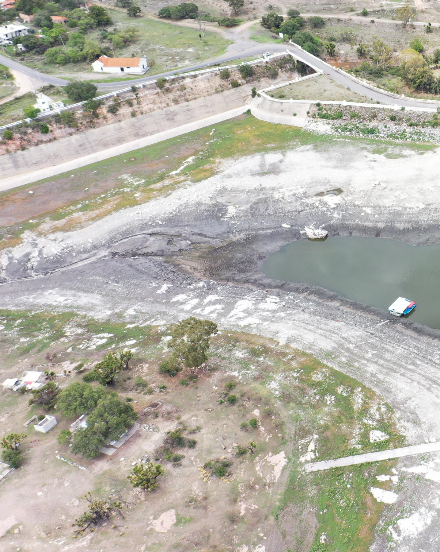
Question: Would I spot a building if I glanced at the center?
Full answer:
No, the scene shows no building at the center.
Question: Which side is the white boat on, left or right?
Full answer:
You can find the white boat on the right side of the picture.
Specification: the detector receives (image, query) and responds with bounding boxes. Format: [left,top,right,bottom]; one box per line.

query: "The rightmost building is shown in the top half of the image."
[87,51,156,77]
